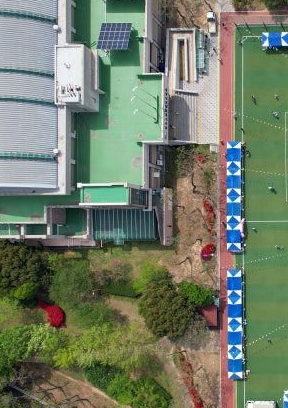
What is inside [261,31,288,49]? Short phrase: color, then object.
blue tent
